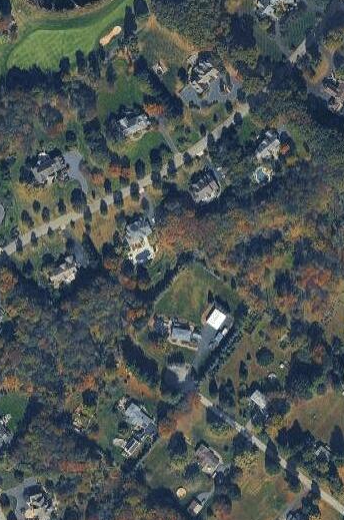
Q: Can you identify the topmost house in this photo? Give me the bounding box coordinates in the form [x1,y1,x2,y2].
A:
[262,0,296,19]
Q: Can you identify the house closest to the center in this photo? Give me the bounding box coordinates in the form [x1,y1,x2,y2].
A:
[124,217,155,245]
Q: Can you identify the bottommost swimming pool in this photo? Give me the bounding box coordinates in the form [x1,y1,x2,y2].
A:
[127,241,156,265]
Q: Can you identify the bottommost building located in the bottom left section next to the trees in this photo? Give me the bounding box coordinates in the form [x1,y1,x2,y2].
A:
[28,493,52,520]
